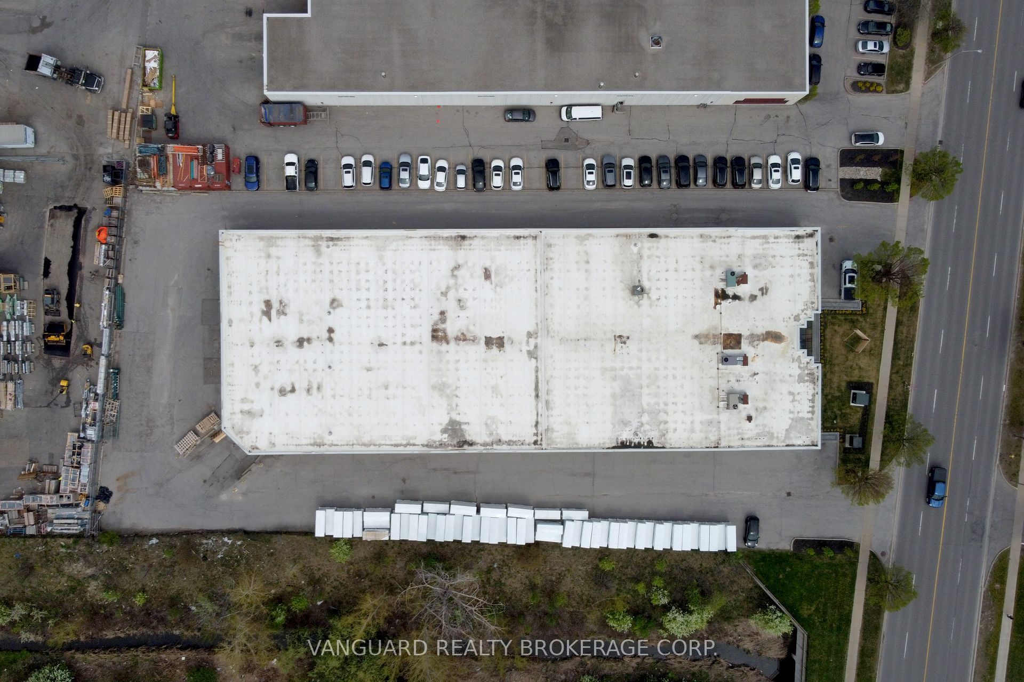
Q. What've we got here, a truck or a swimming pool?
truck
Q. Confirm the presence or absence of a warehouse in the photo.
Yes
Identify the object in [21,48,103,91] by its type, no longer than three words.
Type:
truck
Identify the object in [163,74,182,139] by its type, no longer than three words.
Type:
work vehicle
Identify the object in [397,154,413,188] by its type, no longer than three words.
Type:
car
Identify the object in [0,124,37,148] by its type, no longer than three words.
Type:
trailer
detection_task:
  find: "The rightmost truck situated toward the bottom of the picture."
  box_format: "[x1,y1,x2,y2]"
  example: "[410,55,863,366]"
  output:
[925,466,947,506]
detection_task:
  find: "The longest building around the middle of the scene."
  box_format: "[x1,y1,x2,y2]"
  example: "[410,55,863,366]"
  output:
[218,227,823,455]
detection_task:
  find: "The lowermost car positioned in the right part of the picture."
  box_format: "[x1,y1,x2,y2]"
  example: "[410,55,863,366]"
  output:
[743,515,760,547]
